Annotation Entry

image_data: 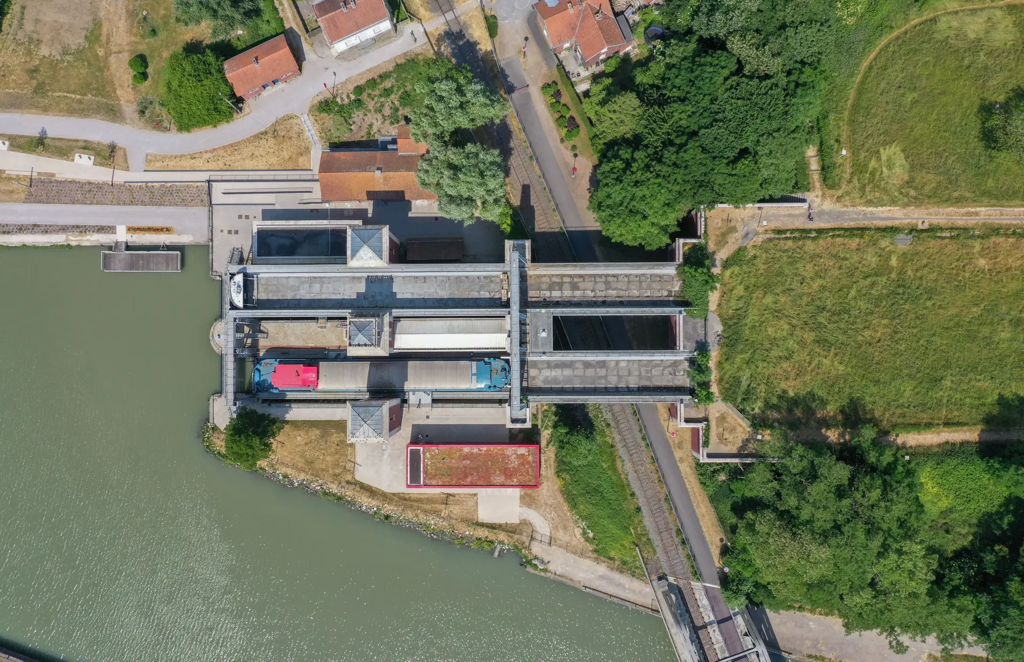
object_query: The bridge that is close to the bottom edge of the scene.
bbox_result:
[635,545,772,662]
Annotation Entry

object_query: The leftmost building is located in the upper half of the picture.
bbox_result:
[224,34,304,105]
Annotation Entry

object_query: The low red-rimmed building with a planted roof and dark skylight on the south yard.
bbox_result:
[407,444,540,488]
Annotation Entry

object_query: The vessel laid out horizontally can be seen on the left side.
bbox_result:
[253,359,509,392]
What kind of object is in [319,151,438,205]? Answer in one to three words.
building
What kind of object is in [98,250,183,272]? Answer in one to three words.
pier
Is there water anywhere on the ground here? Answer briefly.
Yes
